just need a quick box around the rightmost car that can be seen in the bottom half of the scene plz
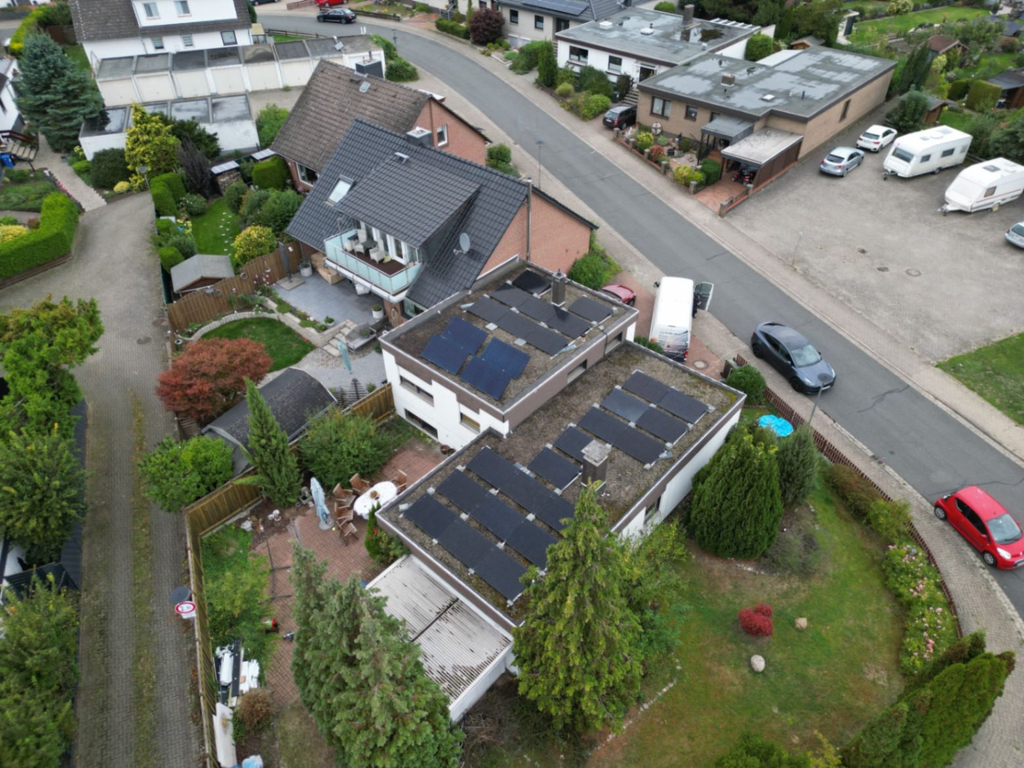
[935,488,1024,574]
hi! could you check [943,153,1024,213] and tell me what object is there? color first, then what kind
white camper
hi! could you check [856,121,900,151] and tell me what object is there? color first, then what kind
white car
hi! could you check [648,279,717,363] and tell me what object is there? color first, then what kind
white van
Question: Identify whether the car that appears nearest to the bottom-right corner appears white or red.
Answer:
red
